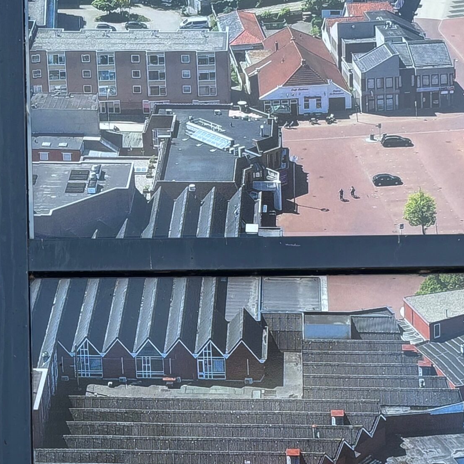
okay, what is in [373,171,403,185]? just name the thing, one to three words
car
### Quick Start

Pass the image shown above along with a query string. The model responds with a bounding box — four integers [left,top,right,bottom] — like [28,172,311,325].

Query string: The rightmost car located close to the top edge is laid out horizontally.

[179,16,212,30]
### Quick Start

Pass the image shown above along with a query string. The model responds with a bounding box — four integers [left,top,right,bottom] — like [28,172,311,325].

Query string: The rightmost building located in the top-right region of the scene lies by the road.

[407,38,455,110]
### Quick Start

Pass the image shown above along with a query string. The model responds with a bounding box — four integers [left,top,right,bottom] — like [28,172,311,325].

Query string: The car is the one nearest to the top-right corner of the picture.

[380,132,414,146]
